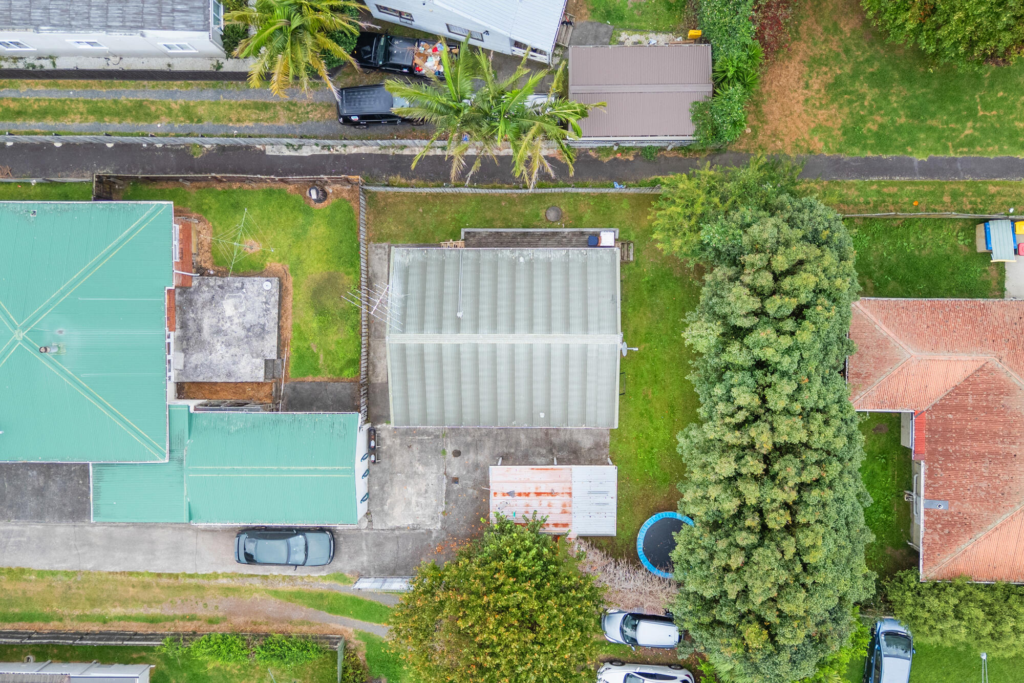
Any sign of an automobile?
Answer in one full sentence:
Yes, the frame does contain an automobile.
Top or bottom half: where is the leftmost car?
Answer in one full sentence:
Seen from above, the leftmost car lies in the bottom half of the view.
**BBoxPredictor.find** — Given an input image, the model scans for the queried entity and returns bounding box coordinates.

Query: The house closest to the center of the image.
[388,245,623,430]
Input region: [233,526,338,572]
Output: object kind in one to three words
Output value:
car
